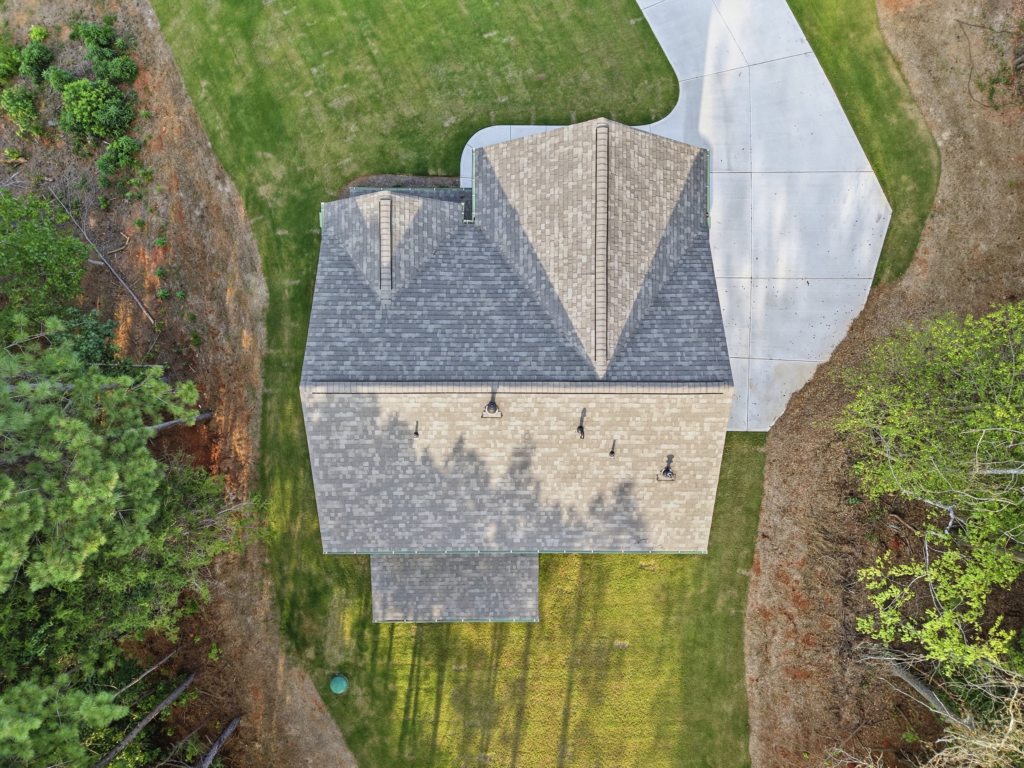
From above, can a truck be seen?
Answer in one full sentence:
No, the frame has no truck in it.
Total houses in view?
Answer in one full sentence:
There is 1 house in the image.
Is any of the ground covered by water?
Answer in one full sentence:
No, there is no water in the image.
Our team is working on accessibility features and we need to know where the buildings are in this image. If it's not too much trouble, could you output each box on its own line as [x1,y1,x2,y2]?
[298,119,734,625]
